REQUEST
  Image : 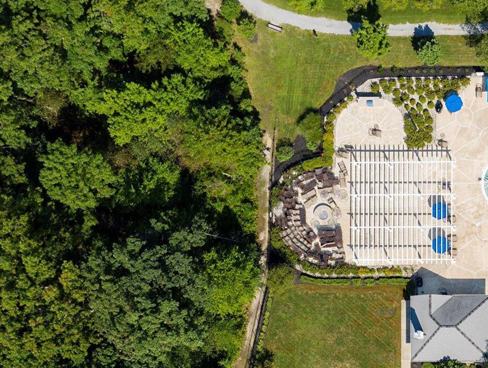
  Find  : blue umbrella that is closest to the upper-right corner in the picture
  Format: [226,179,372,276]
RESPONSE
[445,95,462,111]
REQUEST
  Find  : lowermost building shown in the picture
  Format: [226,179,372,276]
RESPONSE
[409,292,488,363]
